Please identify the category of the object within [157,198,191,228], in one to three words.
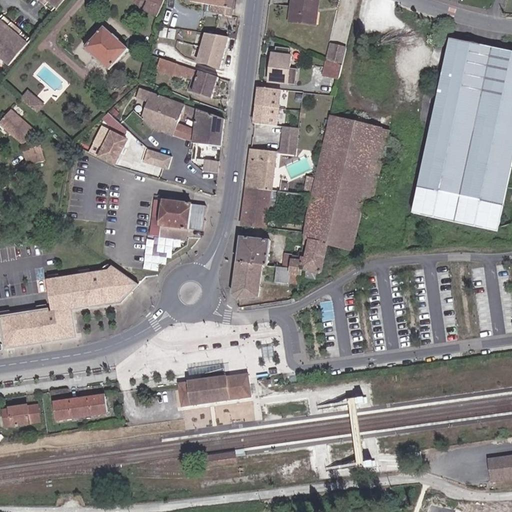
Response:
building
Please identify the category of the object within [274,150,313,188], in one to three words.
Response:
swimming pool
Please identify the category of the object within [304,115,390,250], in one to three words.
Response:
barn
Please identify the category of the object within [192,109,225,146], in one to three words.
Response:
house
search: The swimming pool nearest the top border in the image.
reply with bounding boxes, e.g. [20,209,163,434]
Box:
[34,62,70,104]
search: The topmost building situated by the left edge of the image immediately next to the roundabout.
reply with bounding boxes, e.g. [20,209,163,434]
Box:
[0,266,138,348]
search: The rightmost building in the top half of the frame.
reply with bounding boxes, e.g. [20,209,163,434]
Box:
[411,38,512,232]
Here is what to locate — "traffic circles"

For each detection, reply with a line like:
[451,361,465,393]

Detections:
[160,256,222,322]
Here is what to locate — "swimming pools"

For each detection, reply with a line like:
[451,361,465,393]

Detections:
[274,150,313,188]
[34,62,70,104]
